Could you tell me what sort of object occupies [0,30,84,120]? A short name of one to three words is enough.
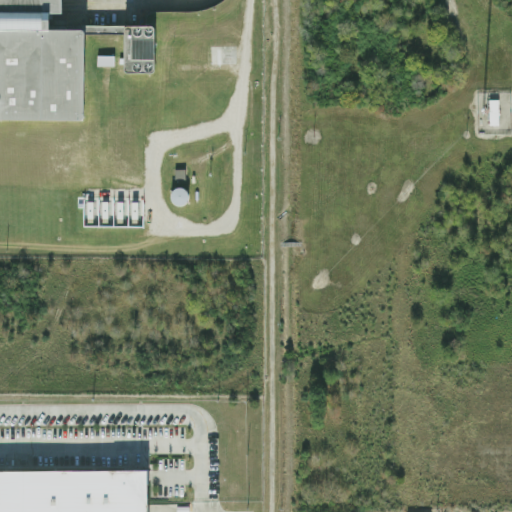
building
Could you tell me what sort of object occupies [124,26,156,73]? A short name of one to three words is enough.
cooling tower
